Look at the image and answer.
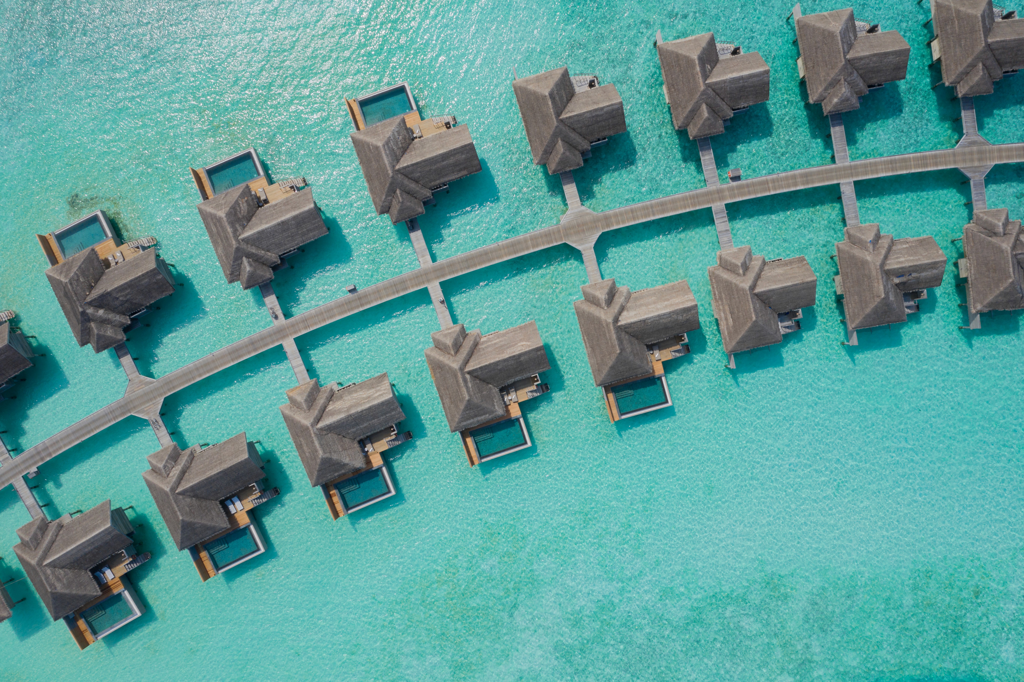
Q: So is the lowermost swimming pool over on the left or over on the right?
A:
left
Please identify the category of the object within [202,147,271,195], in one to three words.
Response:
swimming pool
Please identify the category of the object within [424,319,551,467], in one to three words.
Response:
house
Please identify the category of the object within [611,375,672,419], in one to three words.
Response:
swimming pool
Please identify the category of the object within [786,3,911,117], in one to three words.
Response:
house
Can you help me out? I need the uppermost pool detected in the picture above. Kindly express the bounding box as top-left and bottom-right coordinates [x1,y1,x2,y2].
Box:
[356,81,417,127]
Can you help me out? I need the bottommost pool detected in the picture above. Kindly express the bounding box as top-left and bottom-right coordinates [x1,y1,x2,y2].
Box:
[81,573,148,642]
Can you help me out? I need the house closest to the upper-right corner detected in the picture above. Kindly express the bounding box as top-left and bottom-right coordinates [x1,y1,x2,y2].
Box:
[919,0,1024,101]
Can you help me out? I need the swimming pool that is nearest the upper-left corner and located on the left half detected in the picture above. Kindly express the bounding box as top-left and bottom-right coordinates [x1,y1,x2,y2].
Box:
[50,209,122,260]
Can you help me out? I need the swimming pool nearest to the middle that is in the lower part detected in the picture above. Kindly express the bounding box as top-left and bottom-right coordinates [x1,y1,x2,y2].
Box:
[470,403,531,462]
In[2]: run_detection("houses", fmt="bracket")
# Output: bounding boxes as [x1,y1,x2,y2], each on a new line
[512,66,626,176]
[35,233,182,356]
[0,308,45,403]
[424,319,551,467]
[280,371,411,521]
[573,276,700,423]
[142,429,279,582]
[707,245,817,367]
[653,30,770,141]
[919,0,1024,101]
[344,97,482,226]
[828,222,948,345]
[12,496,155,651]
[189,168,330,293]
[951,206,1024,329]
[786,3,911,117]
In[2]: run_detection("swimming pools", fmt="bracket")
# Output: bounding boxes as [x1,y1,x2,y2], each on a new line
[81,573,148,642]
[50,209,122,260]
[470,403,531,462]
[202,147,271,195]
[203,509,268,575]
[356,81,417,127]
[334,452,397,515]
[611,375,672,419]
